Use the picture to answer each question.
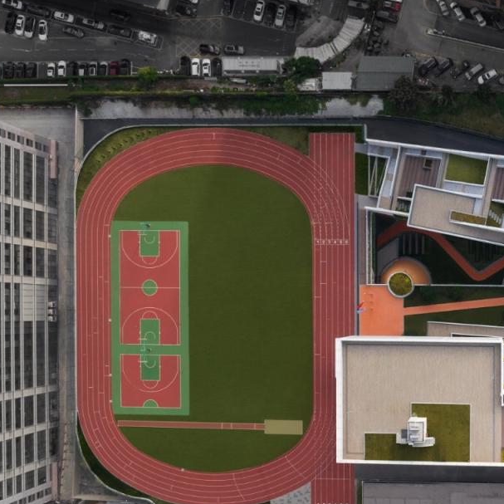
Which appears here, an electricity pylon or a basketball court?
basketball court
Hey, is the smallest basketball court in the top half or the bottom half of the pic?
bottom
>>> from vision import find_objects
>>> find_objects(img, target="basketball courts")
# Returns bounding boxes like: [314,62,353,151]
[112,221,189,350]
[112,350,189,415]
